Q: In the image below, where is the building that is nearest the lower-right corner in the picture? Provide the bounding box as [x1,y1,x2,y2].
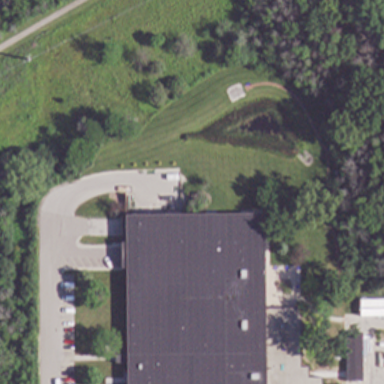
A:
[348,335,364,382]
